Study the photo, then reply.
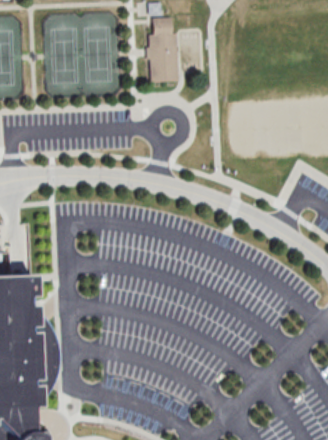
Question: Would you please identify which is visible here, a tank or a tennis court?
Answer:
tennis court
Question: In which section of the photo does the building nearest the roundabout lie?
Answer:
top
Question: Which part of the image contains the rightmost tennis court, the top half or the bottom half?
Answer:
top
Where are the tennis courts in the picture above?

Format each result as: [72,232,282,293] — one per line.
[44,14,82,94]
[80,12,118,94]
[0,14,22,98]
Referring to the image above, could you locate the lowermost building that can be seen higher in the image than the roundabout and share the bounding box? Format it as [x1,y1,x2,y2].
[146,18,179,83]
